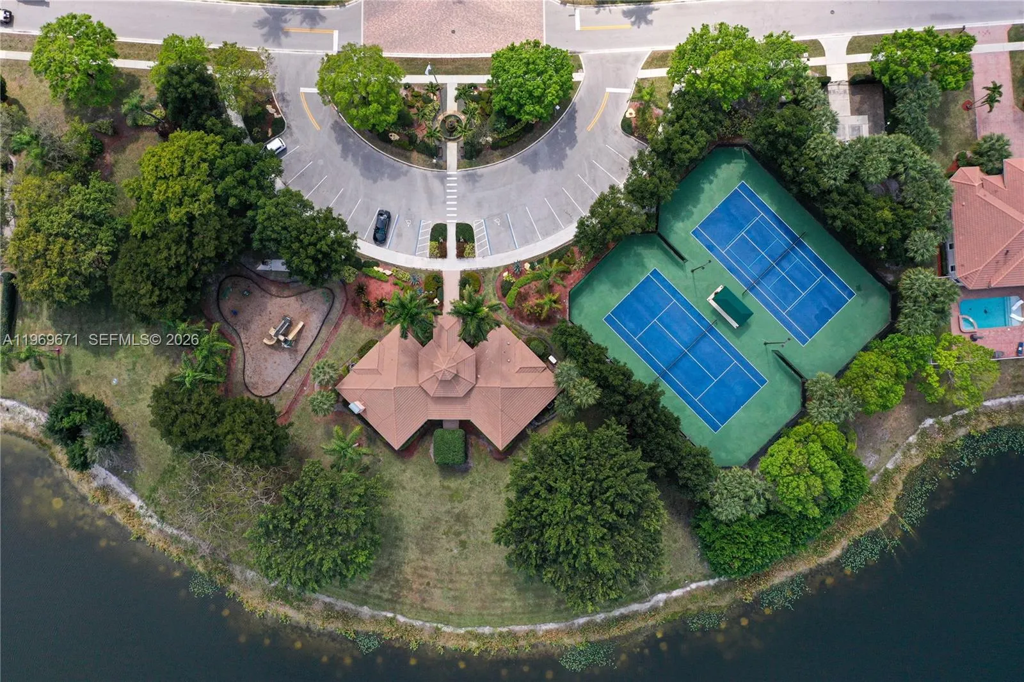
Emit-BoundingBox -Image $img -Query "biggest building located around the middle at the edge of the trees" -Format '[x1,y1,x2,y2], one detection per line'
[335,315,561,452]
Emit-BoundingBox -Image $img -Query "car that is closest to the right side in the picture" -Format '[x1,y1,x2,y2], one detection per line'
[373,210,391,245]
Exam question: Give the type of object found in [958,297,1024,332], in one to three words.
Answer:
swimming pool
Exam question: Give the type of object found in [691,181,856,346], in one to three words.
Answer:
tennis court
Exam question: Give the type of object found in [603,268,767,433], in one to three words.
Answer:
tennis court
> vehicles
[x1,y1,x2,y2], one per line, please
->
[373,210,391,245]
[257,135,287,161]
[0,10,14,27]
